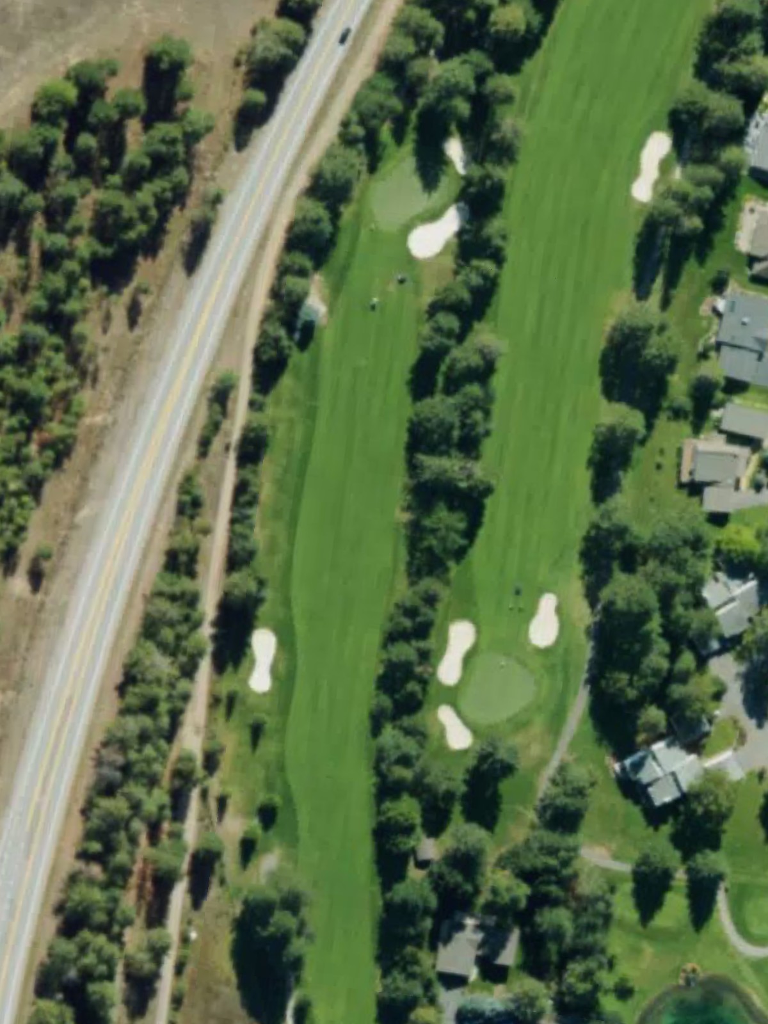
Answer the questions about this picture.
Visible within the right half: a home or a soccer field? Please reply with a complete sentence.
Visible within the right half is a home.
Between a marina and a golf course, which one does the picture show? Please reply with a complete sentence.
What you see here is a golf course.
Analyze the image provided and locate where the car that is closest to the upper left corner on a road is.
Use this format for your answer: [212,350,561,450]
[338,27,352,44]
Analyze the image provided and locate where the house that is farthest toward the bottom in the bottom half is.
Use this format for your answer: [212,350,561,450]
[437,919,522,978]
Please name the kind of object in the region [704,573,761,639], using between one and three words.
house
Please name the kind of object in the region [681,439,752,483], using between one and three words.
house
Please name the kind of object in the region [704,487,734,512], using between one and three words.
building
